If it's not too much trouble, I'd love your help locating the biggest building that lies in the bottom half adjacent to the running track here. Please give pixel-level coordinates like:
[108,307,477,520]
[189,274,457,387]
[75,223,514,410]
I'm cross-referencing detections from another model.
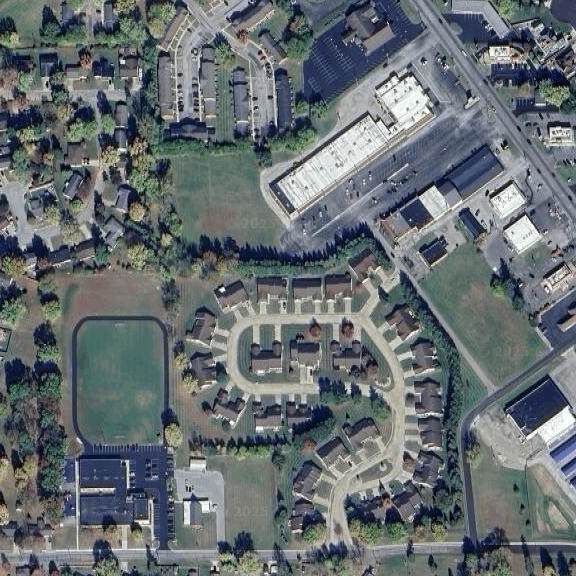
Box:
[80,458,149,526]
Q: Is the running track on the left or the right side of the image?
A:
left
